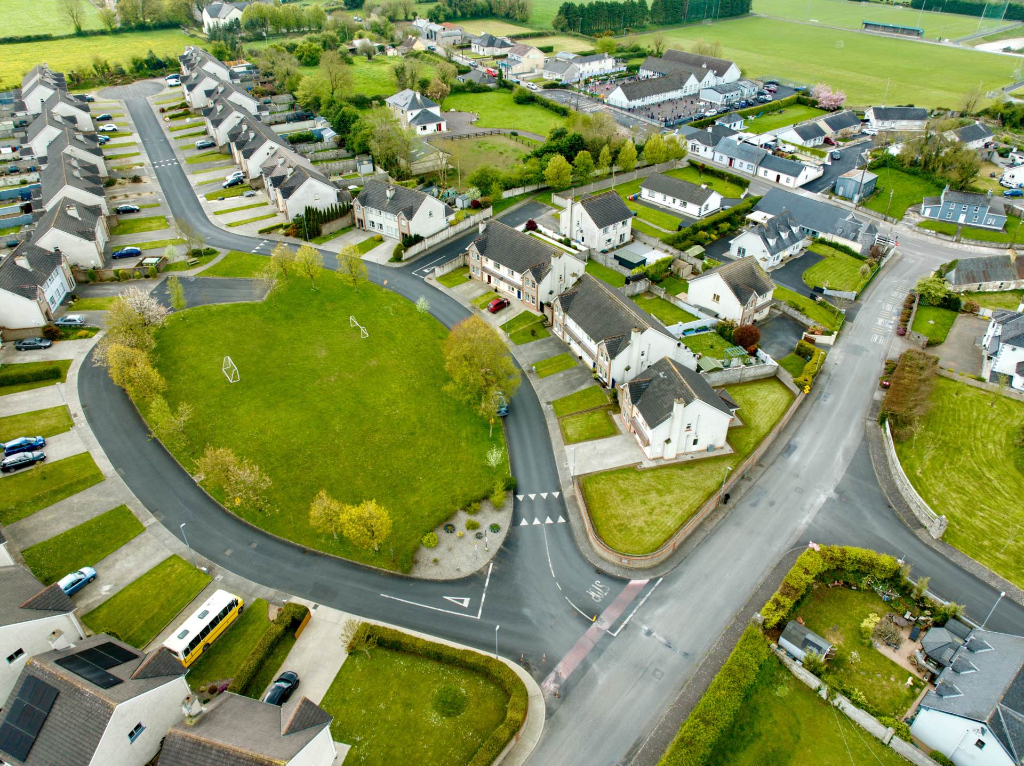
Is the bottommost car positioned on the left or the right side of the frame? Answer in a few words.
left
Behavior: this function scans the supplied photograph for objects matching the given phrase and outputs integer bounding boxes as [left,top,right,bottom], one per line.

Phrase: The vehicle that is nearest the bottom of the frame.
[253,657,308,704]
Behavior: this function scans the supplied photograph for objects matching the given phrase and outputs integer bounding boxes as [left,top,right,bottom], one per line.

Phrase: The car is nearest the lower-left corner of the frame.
[48,561,102,596]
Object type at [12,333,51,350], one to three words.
car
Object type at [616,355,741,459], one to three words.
house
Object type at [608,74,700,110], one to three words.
building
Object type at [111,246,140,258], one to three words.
vehicle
